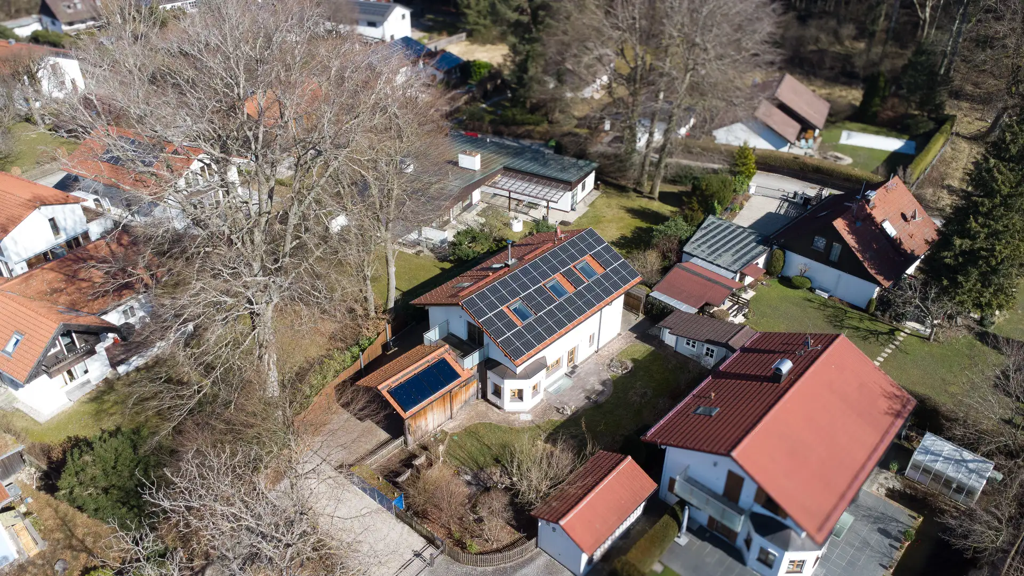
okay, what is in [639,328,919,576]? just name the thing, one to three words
house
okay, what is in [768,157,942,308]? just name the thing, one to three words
house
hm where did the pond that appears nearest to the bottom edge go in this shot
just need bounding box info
[902,509,1005,576]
